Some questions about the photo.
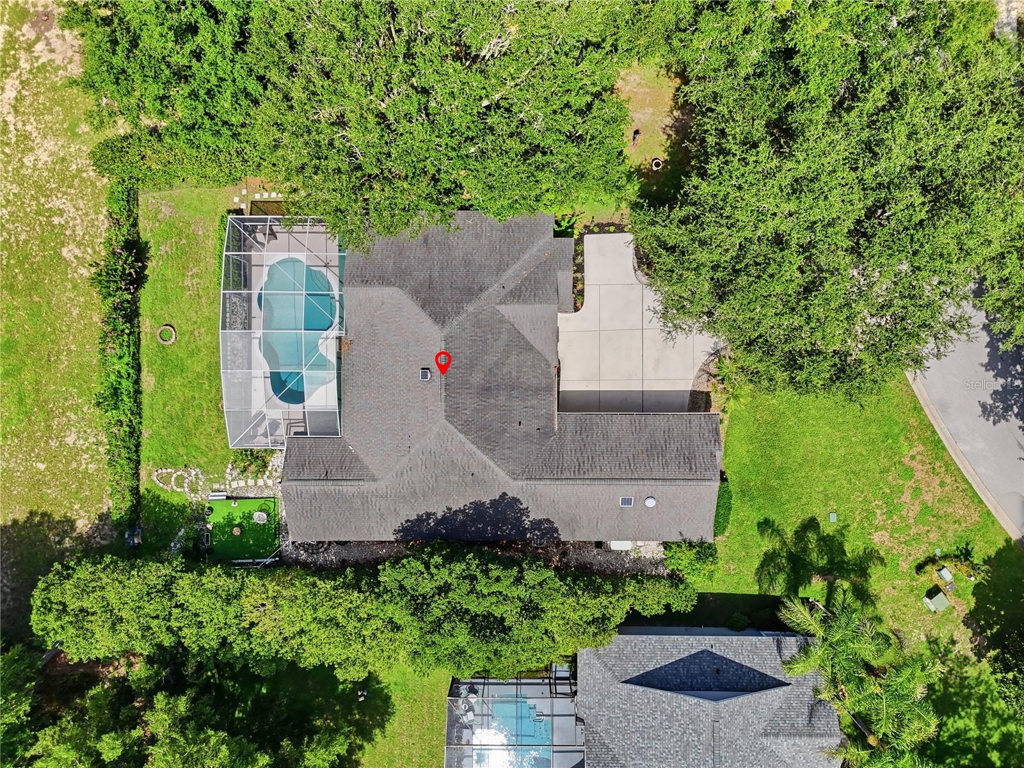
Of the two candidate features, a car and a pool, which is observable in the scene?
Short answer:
pool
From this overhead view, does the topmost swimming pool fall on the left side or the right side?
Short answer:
left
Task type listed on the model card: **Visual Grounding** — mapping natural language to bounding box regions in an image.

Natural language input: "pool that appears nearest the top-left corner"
[252,252,341,409]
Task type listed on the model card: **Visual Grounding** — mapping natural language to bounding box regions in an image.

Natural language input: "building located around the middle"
[282,211,724,541]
